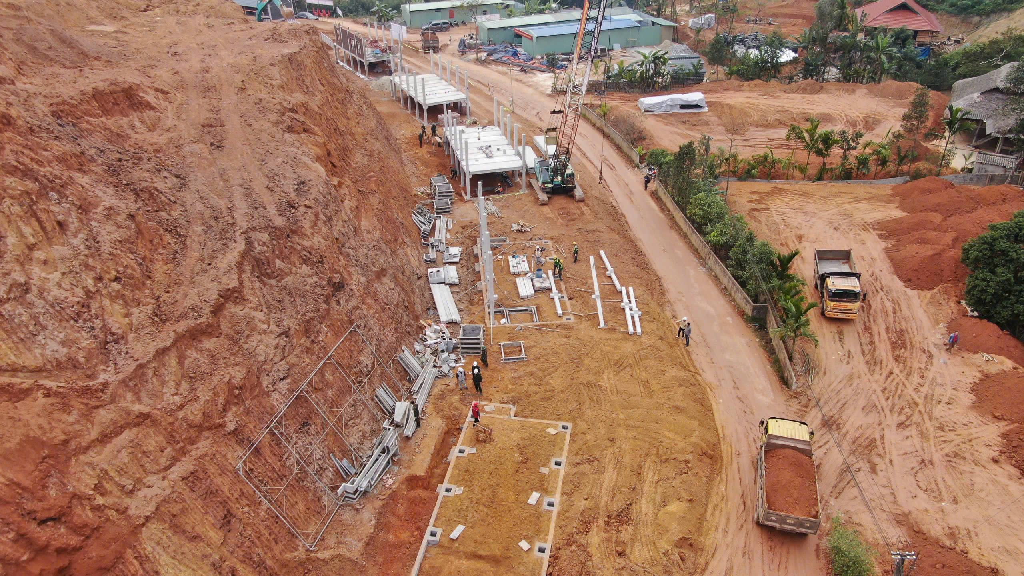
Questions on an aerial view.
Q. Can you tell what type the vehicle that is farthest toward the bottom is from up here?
truck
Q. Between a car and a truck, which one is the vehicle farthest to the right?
truck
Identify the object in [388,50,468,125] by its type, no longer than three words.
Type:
house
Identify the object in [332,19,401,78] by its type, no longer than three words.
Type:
house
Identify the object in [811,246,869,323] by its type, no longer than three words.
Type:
truck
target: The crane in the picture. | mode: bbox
[526,0,618,203]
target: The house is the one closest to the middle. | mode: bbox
[443,98,526,199]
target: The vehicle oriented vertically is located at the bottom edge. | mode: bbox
[751,403,821,551]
